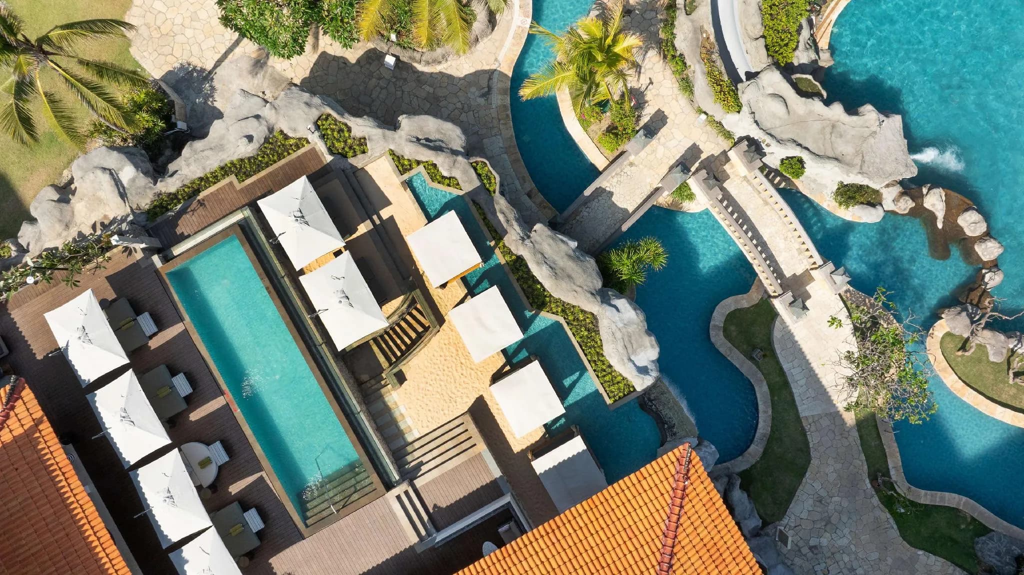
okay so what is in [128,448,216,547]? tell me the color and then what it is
white umbrella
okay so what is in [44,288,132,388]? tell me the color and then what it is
white umbrella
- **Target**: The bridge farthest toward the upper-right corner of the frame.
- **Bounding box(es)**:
[700,168,825,302]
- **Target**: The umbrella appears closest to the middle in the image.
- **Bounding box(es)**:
[303,253,386,348]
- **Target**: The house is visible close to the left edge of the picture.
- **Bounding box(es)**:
[0,371,136,575]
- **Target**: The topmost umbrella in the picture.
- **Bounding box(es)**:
[261,176,344,271]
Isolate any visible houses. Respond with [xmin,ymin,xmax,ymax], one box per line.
[0,371,136,575]
[446,439,763,575]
